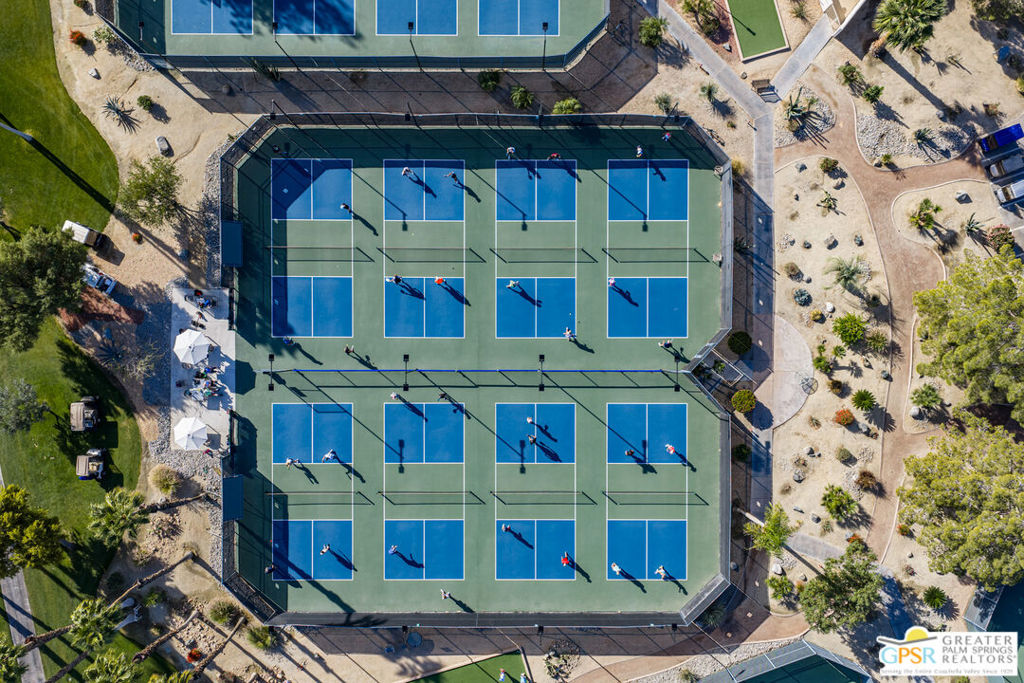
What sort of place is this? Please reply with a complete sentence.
This image shows a sports ground.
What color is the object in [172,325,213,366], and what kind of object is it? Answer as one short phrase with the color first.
white umbrella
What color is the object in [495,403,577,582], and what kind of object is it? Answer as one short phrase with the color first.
blue sports court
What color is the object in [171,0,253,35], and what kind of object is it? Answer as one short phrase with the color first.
blue sports court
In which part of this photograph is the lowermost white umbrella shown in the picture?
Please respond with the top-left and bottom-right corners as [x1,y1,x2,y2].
[172,414,209,450]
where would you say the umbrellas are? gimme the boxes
[172,414,209,450]
[172,325,213,366]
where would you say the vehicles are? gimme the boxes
[991,181,1024,208]
[82,265,124,297]
[71,398,98,431]
[77,446,104,480]
[63,222,108,251]
[984,152,1024,182]
[976,123,1023,154]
